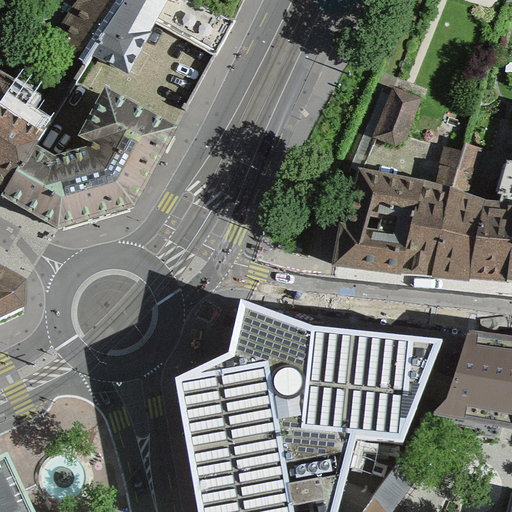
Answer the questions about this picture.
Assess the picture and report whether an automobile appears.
Yes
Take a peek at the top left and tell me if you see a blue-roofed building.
No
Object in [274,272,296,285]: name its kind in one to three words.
vehicle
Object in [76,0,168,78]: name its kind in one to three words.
house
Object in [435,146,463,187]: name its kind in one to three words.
shed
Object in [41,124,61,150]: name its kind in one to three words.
vehicle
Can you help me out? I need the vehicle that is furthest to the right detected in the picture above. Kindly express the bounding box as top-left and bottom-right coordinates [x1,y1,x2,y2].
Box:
[414,277,442,290]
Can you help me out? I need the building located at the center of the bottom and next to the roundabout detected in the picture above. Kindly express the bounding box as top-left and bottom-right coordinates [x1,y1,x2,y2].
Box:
[176,298,442,512]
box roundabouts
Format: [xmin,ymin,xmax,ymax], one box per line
[44,242,186,383]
